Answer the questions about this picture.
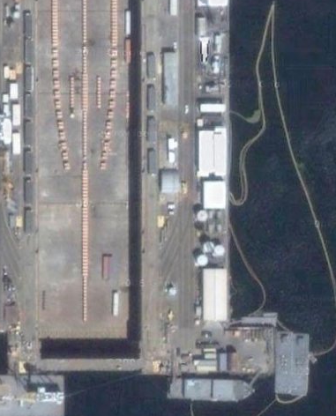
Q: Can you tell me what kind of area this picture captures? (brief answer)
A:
port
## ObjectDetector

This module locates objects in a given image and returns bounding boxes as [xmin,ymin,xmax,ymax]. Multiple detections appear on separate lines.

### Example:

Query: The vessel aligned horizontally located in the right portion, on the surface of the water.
[169,377,255,403]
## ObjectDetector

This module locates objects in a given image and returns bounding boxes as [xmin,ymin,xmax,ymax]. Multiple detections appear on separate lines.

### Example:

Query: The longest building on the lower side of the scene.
[204,269,226,322]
